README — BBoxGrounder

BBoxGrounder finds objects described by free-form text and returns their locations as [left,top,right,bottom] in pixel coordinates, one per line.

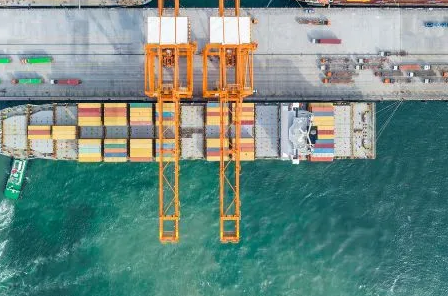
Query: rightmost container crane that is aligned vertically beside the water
[195,0,258,244]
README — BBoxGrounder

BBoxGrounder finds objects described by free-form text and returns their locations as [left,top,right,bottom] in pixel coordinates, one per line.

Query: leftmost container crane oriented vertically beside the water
[142,0,199,244]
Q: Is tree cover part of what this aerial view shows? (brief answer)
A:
No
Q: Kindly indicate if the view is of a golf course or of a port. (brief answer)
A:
port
